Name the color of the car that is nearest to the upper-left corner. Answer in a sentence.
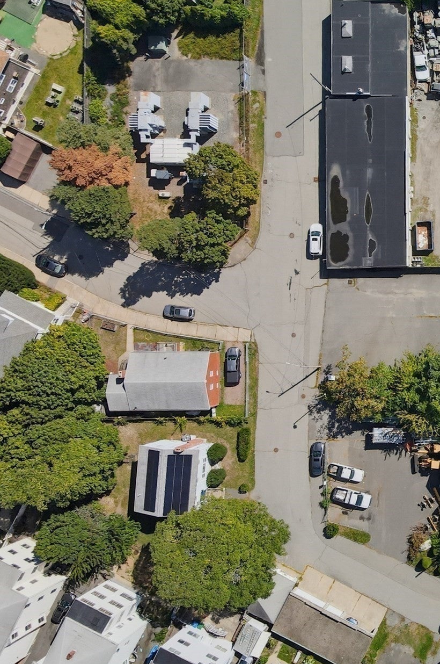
The color of the car that is nearest to the upper-left corner is black.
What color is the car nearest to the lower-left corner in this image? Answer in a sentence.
In this view, the car nearest to the lower-left corner is black.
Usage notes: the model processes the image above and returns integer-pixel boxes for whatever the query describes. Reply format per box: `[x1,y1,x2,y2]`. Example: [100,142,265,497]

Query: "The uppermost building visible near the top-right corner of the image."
[331,0,411,100]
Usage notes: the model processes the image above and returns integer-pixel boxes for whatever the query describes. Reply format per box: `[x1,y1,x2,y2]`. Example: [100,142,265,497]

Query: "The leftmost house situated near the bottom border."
[0,528,60,664]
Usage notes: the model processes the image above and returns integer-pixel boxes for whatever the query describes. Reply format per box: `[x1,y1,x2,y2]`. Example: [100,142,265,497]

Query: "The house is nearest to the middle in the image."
[106,343,218,412]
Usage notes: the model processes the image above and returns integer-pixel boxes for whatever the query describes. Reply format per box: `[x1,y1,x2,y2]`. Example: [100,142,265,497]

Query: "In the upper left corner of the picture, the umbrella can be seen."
[18,52,32,66]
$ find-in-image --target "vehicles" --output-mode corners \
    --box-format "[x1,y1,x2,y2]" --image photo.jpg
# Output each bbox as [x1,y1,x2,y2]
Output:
[326,462,365,482]
[33,254,69,277]
[309,443,325,476]
[307,222,324,257]
[163,304,196,320]
[236,653,254,664]
[411,39,431,86]
[411,444,440,465]
[223,347,243,384]
[52,592,76,623]
[331,488,371,508]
